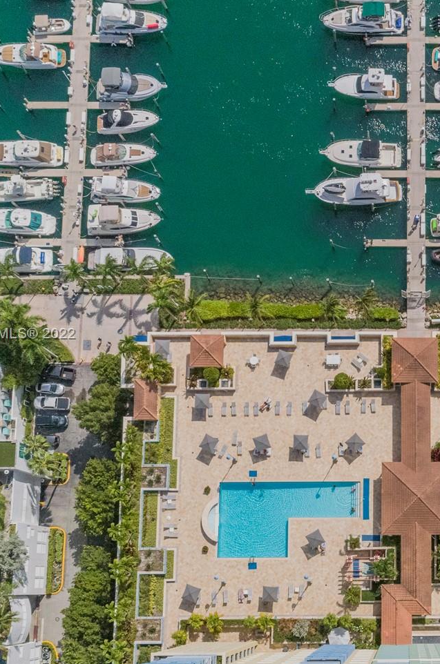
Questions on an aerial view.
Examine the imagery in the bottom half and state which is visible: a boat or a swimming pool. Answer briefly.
swimming pool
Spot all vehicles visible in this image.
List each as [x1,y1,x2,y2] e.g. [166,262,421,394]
[37,433,67,447]
[39,382,69,396]
[45,367,77,382]
[36,396,70,410]
[37,416,68,430]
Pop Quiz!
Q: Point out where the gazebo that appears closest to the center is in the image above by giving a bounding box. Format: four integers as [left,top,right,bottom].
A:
[189,334,225,368]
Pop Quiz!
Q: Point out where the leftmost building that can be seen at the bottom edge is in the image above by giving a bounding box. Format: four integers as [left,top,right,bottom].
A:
[8,472,57,664]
